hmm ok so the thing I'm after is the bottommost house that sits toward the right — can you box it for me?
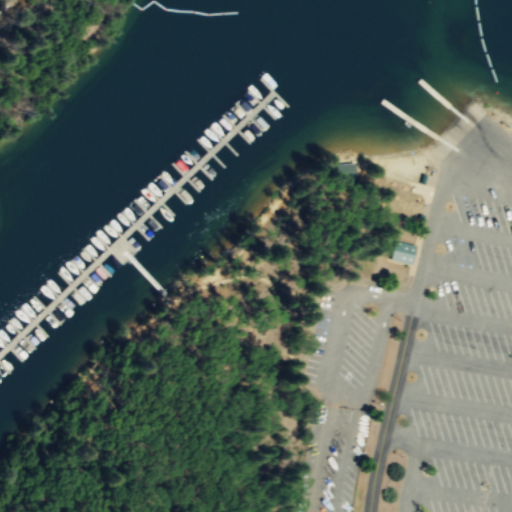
[394,242,417,264]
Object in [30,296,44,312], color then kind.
white boat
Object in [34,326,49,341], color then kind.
white boat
